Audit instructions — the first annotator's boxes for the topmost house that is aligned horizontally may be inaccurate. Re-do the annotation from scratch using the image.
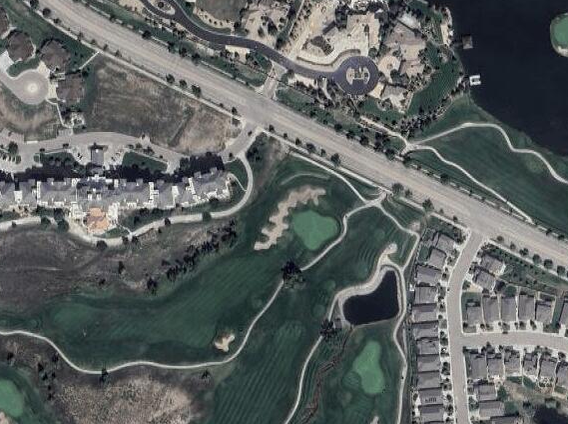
[245,0,295,24]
